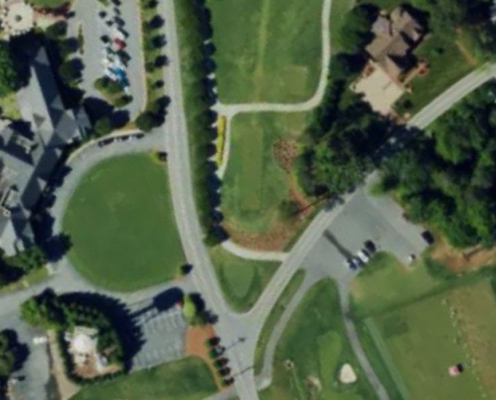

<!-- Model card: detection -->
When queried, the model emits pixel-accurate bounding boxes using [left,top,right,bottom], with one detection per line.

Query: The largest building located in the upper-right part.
[359,2,424,86]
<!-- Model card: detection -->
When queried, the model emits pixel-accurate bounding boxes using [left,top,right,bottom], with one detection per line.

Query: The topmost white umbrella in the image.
[73,333,90,350]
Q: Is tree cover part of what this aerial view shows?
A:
Yes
